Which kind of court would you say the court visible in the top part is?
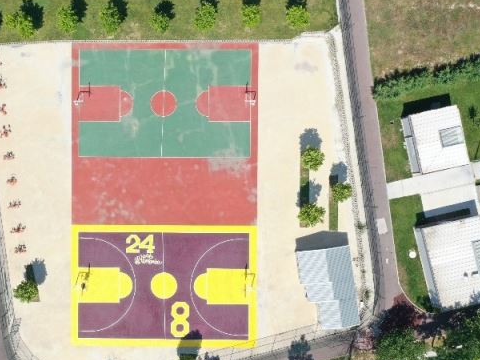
basketball court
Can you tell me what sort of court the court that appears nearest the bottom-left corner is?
basketball court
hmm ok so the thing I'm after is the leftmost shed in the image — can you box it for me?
[294,245,361,328]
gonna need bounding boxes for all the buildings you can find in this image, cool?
[402,105,470,174]
[294,245,361,328]
[412,214,480,309]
